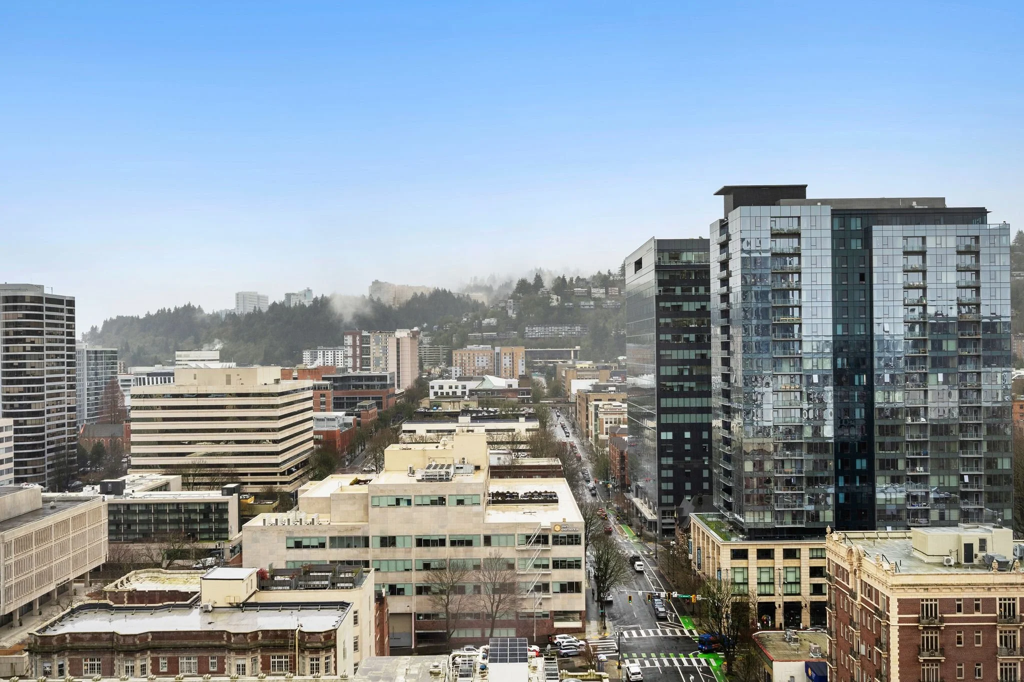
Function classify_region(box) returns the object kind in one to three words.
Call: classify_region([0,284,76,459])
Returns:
building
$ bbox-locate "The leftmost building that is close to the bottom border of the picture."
[0,505,110,648]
